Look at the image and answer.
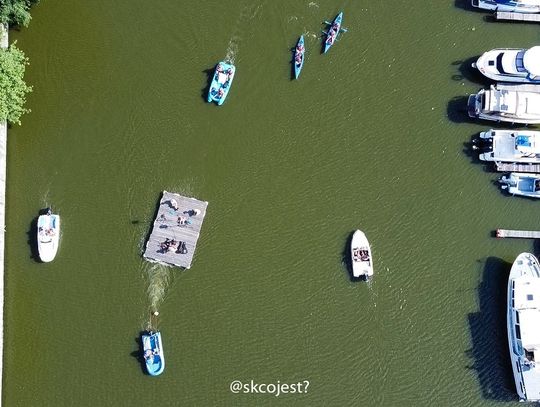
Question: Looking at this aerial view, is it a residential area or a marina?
marina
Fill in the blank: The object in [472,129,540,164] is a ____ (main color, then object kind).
white boat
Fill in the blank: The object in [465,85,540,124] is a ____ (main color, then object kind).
white boat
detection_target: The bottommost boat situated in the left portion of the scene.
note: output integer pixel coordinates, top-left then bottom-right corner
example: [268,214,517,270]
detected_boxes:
[141,331,162,378]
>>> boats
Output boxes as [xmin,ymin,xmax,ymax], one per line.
[208,56,235,105]
[502,250,540,407]
[141,331,162,378]
[465,85,540,124]
[324,11,342,53]
[352,229,374,282]
[498,172,540,198]
[472,129,540,164]
[470,0,540,13]
[34,210,58,263]
[470,46,540,86]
